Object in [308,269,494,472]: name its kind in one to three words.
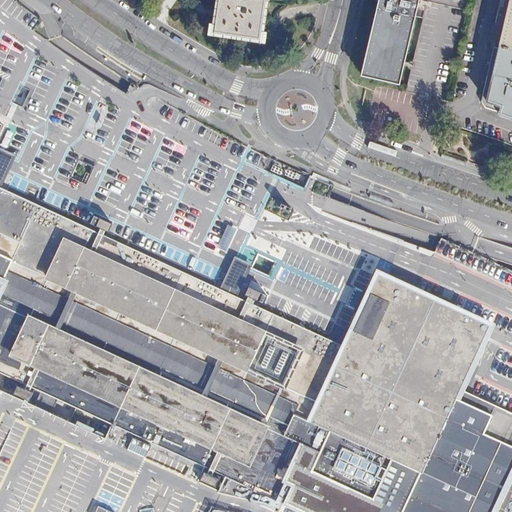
building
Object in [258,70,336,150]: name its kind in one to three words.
roundabout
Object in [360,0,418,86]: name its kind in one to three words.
building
